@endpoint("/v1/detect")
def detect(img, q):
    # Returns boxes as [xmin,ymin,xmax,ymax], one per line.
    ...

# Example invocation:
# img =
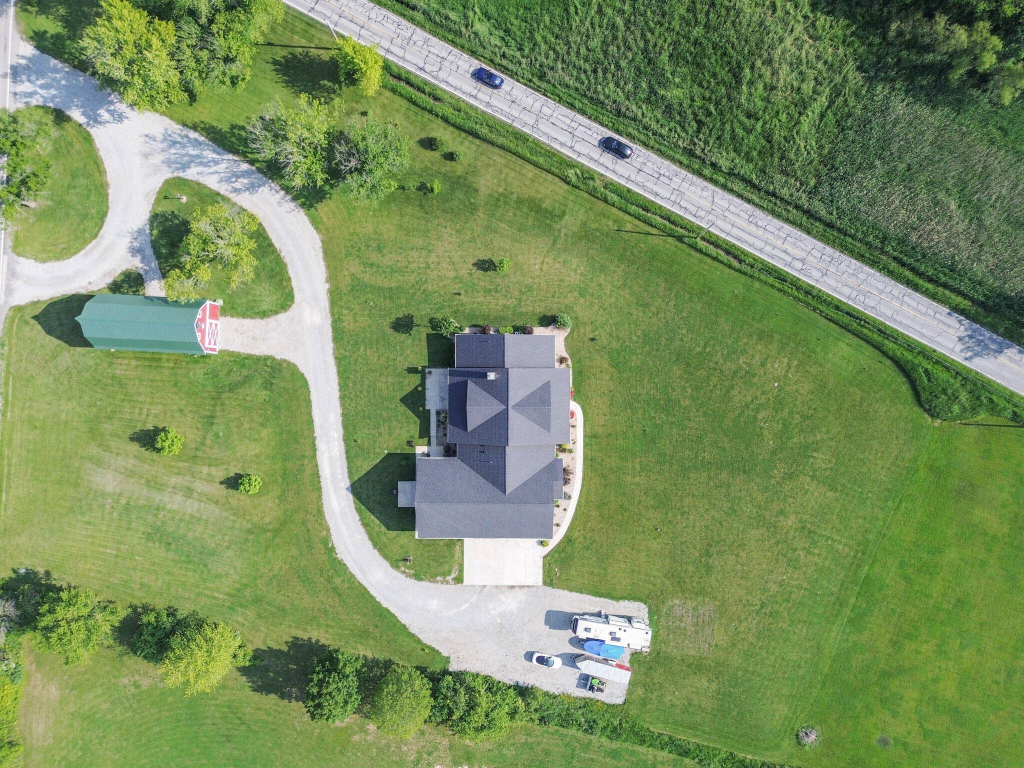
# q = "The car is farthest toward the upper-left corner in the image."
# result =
[476,68,506,91]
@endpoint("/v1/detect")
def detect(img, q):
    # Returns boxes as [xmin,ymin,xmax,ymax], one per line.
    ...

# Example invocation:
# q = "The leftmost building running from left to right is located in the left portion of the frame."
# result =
[74,292,220,356]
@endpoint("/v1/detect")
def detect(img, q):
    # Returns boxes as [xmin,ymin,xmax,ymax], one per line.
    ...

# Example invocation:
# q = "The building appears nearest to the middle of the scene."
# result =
[414,332,571,540]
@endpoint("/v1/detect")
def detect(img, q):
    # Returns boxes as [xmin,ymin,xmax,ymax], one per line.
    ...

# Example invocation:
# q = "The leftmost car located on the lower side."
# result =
[532,650,562,669]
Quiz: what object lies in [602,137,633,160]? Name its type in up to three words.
car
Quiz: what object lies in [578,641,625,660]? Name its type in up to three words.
boat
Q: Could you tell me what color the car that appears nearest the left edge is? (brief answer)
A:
blue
